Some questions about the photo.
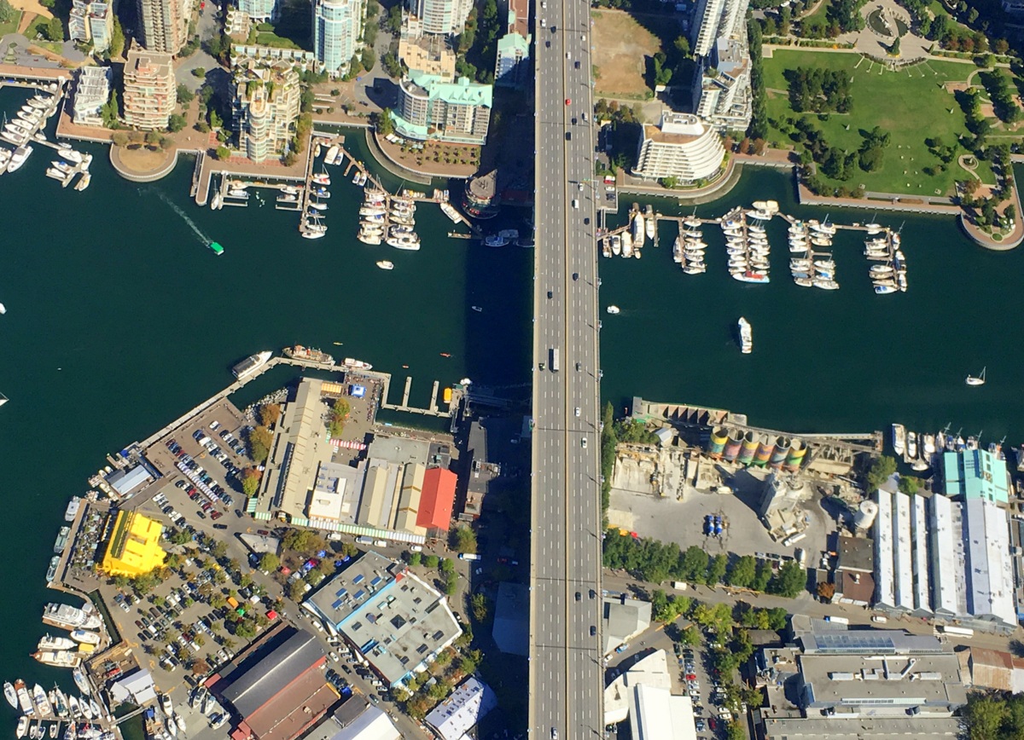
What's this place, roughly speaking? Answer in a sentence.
The area seen from above is a port.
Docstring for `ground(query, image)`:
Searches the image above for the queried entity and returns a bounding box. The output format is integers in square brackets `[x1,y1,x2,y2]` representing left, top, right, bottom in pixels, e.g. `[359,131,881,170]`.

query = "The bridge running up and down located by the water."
[528,0,604,740]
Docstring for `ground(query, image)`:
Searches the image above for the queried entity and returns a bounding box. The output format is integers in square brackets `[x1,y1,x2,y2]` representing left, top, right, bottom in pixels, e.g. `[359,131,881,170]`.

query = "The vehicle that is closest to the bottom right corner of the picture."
[941,625,975,637]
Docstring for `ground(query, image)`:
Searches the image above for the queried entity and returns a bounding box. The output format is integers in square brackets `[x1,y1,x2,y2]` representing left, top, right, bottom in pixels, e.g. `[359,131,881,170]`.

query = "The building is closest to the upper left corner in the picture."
[68,0,112,49]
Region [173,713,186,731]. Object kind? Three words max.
boat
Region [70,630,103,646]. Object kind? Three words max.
boat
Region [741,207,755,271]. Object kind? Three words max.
pier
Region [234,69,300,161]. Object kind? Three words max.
building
